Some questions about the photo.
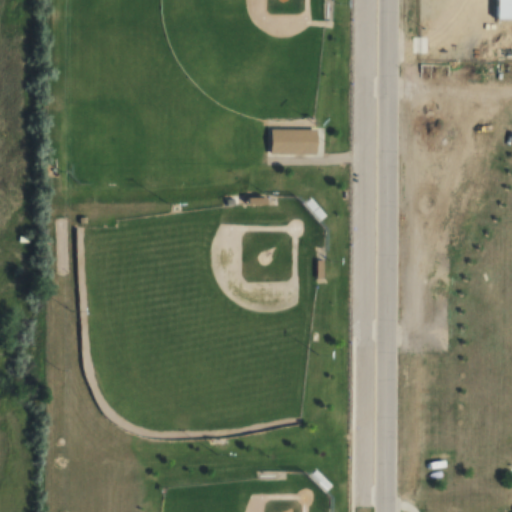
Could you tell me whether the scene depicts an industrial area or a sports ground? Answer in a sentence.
The picture captures a sports ground.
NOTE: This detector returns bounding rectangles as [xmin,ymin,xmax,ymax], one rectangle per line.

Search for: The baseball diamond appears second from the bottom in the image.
[77,196,326,441]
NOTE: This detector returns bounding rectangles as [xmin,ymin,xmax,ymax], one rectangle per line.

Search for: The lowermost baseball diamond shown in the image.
[162,472,332,512]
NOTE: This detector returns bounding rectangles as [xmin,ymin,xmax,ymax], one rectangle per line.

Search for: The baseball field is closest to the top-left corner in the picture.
[161,0,334,122]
